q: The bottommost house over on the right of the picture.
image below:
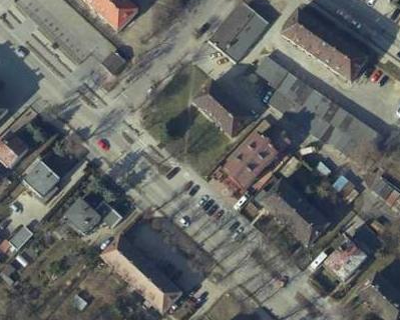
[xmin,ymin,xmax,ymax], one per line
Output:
[358,280,400,320]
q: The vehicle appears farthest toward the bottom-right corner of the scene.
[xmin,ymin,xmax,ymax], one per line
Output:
[309,254,326,269]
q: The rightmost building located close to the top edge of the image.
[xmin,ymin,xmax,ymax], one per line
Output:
[280,8,371,81]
